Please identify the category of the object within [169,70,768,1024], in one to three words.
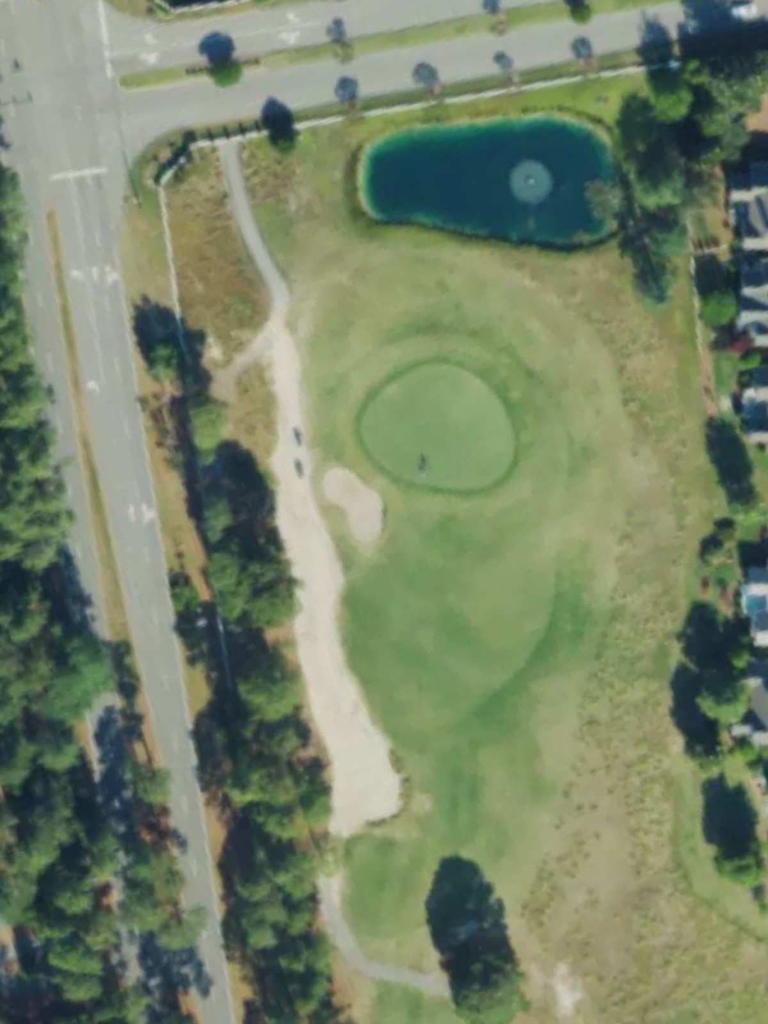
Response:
golf course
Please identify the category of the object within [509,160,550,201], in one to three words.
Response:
fountain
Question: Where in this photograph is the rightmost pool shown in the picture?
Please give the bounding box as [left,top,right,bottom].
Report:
[740,589,768,626]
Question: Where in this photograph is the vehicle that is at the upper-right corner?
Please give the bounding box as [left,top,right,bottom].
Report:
[732,4,758,17]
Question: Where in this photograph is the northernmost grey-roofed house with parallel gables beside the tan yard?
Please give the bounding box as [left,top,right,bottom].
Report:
[728,170,768,257]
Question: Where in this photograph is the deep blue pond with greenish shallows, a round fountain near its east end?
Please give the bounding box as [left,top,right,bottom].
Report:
[358,113,620,245]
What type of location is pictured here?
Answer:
golf course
